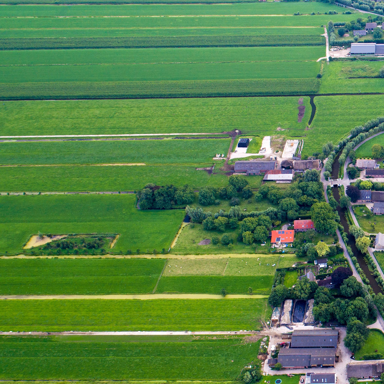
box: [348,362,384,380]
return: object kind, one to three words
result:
house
